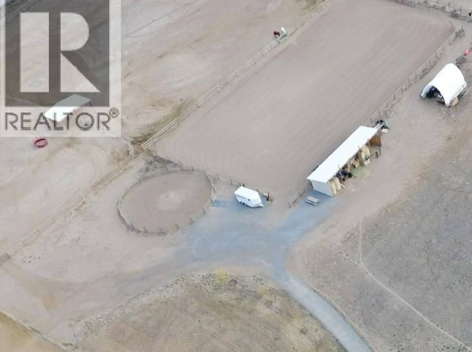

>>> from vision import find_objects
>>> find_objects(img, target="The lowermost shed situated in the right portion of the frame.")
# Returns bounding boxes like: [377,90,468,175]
[307,125,380,197]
